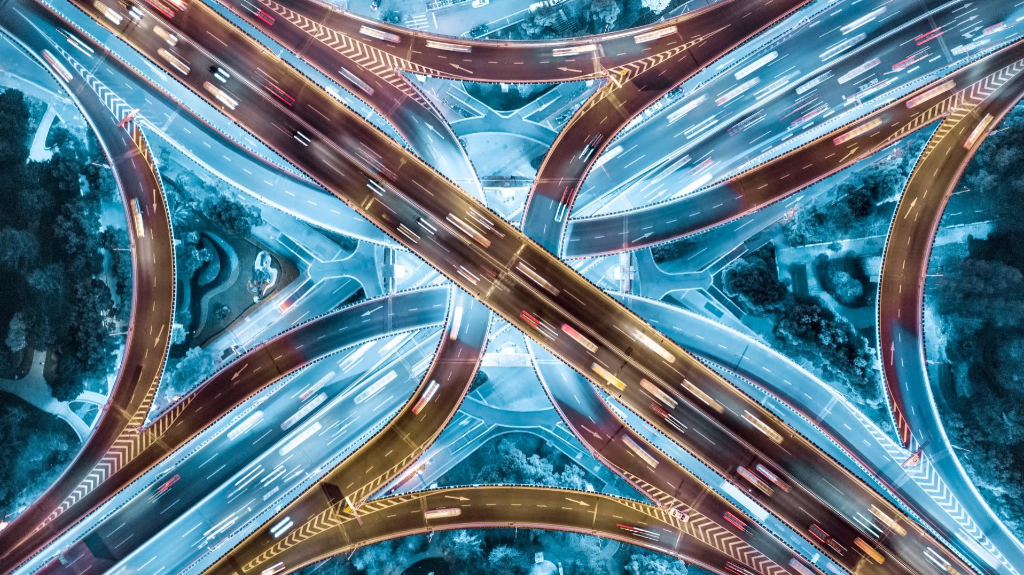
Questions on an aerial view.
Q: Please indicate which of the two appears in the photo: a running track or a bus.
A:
bus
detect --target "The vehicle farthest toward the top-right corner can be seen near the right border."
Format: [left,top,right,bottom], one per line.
[979,20,1005,38]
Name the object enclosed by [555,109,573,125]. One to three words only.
car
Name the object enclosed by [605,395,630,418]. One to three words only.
vehicle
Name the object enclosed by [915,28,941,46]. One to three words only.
car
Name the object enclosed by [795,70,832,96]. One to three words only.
bus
